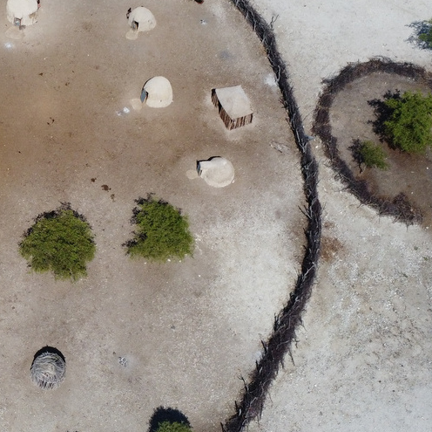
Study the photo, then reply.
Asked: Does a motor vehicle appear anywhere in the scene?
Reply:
No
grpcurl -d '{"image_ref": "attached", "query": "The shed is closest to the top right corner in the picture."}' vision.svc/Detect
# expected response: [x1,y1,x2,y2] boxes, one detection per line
[209,86,252,130]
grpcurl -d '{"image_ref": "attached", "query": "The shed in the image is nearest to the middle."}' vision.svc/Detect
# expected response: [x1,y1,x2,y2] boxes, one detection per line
[187,158,236,189]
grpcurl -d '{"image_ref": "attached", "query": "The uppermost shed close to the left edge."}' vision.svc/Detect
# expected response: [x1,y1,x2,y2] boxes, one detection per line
[4,0,36,36]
